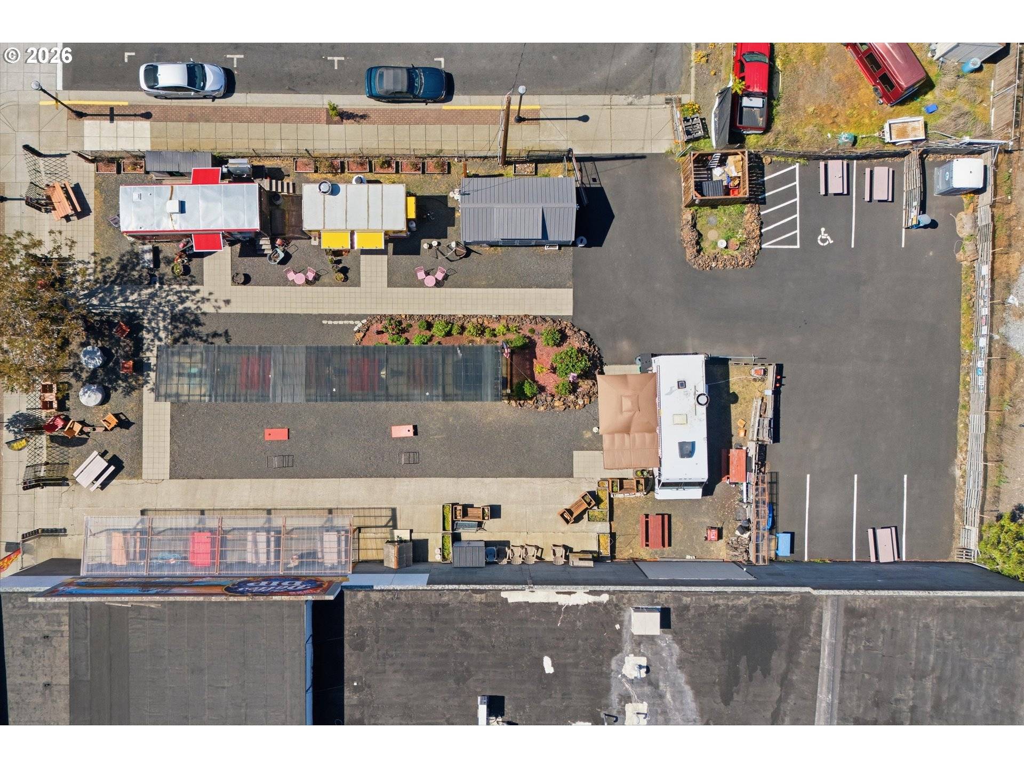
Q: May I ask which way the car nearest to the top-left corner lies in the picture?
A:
from side to side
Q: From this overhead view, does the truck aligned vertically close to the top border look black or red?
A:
red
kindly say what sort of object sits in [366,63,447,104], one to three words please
car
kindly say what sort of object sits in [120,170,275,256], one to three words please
trailer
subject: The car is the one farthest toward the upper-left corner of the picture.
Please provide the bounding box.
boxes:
[141,60,227,100]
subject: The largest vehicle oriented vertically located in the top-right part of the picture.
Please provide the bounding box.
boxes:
[731,37,775,138]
